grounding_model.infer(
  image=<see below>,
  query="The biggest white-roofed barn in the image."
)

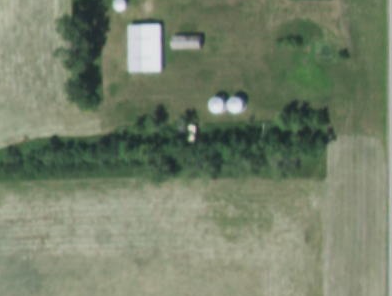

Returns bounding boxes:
[129,24,163,72]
